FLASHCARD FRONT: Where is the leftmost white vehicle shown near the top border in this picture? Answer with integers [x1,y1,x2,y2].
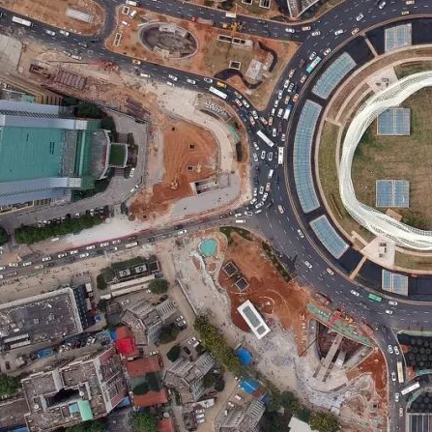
[9,14,32,26]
